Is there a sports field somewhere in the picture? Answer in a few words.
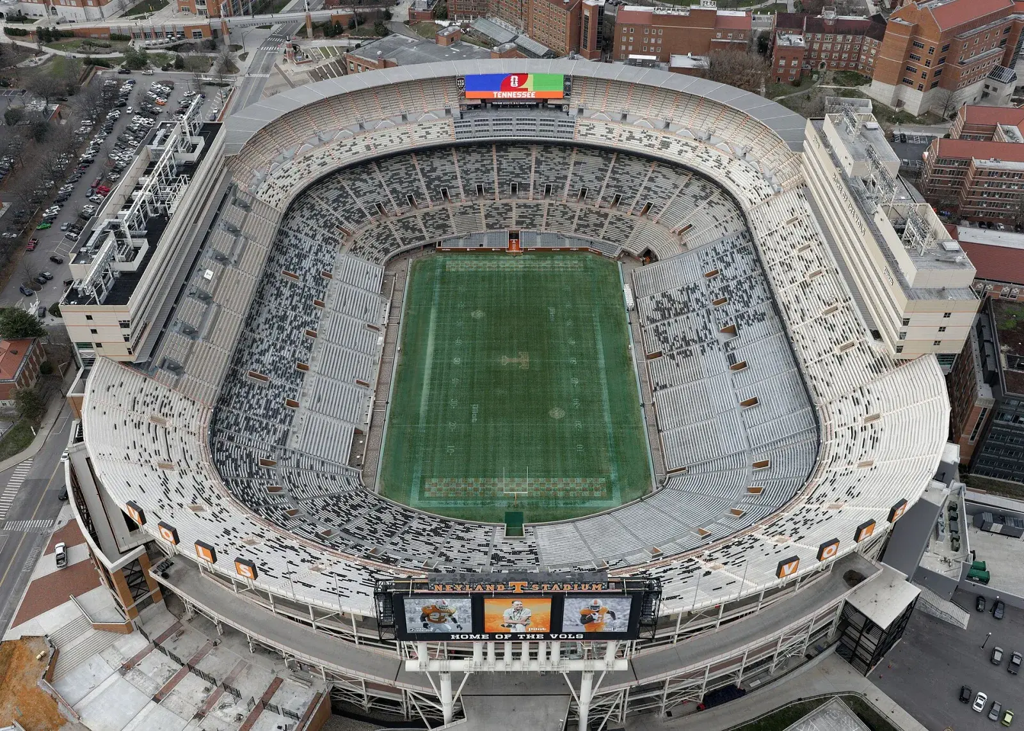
Yes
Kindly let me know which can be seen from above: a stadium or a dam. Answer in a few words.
stadium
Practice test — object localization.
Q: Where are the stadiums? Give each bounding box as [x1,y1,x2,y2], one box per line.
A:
[81,57,949,658]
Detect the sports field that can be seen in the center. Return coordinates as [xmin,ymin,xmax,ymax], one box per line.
[375,243,655,524]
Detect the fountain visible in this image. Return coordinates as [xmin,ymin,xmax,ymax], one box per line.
[287,44,314,64]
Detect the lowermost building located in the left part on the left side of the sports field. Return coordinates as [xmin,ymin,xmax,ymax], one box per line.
[64,441,176,631]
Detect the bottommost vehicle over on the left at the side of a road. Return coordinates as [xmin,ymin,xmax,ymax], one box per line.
[54,543,67,566]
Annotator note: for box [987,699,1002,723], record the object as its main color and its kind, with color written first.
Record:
gray car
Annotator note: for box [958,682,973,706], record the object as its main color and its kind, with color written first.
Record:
black car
